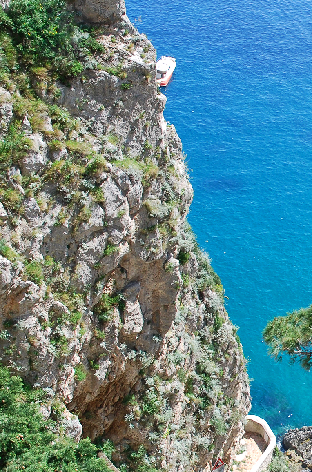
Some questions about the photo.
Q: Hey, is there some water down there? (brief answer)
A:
Yes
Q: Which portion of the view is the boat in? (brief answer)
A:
top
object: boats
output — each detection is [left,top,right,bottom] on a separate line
[150,49,174,85]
